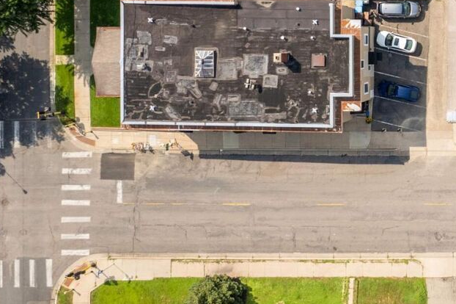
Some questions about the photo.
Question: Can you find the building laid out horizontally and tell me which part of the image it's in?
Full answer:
The building laid out horizontally appears toward the top of the photo.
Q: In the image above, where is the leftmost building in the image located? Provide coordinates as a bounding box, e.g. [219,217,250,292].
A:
[92,0,375,133]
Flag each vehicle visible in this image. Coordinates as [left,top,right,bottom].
[377,0,419,20]
[376,31,417,53]
[378,80,420,101]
